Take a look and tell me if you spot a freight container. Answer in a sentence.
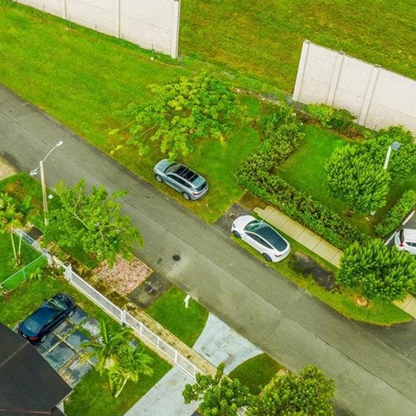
No, I can't see a single freight container in this photo.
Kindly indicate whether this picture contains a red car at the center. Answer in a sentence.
No, looking at the center, there is no red car.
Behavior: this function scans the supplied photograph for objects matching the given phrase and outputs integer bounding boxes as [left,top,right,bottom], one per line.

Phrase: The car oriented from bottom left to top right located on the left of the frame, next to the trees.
[8,288,83,344]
